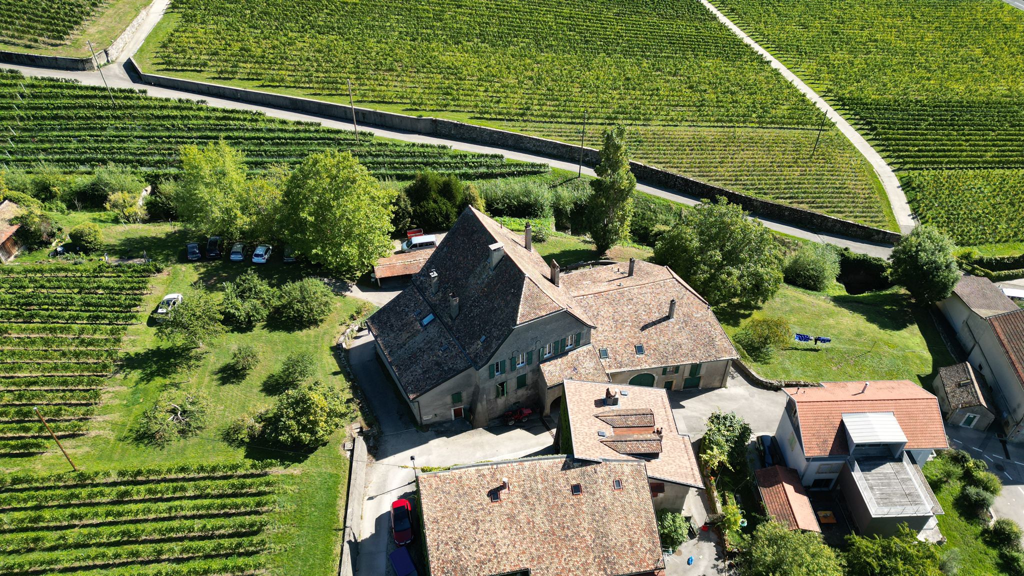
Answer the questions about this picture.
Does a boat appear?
No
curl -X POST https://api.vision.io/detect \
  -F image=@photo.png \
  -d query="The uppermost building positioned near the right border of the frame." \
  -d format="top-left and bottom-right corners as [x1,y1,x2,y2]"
[934,275,1024,360]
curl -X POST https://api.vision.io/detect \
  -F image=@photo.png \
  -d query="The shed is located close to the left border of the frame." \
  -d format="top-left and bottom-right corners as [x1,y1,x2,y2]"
[0,200,28,267]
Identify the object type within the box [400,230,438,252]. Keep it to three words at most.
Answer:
vehicle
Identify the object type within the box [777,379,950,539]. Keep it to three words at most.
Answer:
house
